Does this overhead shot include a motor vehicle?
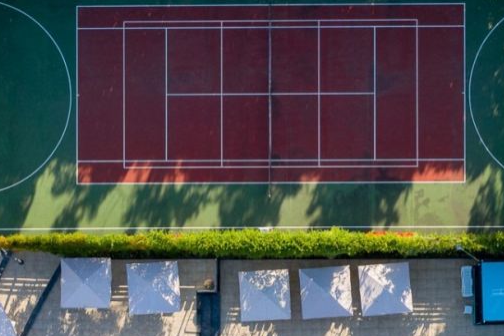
No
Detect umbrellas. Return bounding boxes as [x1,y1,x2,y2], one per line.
[127,261,181,316]
[239,270,291,322]
[60,257,111,309]
[300,266,352,319]
[358,262,412,316]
